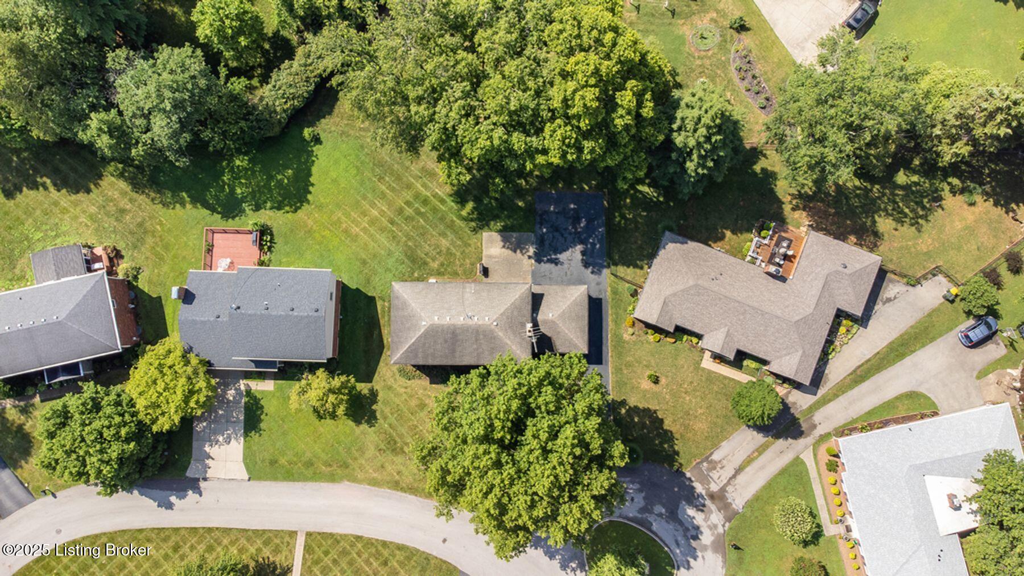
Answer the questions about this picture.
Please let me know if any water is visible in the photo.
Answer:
No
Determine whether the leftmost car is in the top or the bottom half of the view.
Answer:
top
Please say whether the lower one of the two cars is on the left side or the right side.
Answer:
right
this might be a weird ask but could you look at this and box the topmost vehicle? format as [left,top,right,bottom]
[841,0,879,36]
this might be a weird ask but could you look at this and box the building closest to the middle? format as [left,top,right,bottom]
[390,281,589,365]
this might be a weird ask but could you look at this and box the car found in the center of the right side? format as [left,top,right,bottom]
[955,317,999,349]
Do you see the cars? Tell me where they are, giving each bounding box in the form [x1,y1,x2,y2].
[841,0,879,36]
[955,317,999,349]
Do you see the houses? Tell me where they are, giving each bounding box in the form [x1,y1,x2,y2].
[833,399,1023,576]
[390,281,589,365]
[171,265,341,371]
[0,270,140,386]
[633,230,883,386]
